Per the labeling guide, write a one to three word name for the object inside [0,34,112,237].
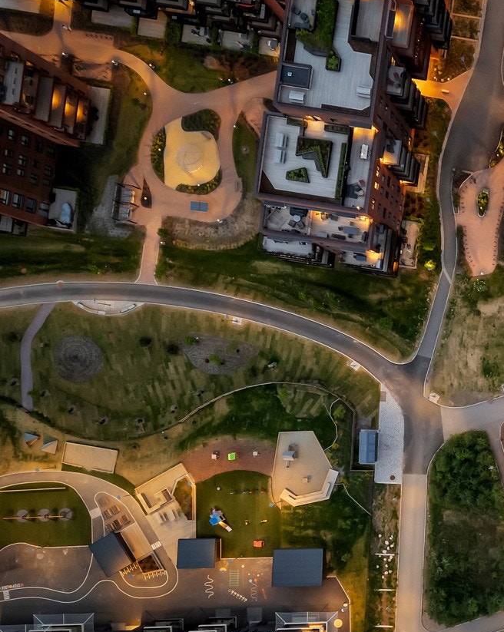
building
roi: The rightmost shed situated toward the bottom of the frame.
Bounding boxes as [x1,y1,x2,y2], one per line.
[359,429,384,463]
